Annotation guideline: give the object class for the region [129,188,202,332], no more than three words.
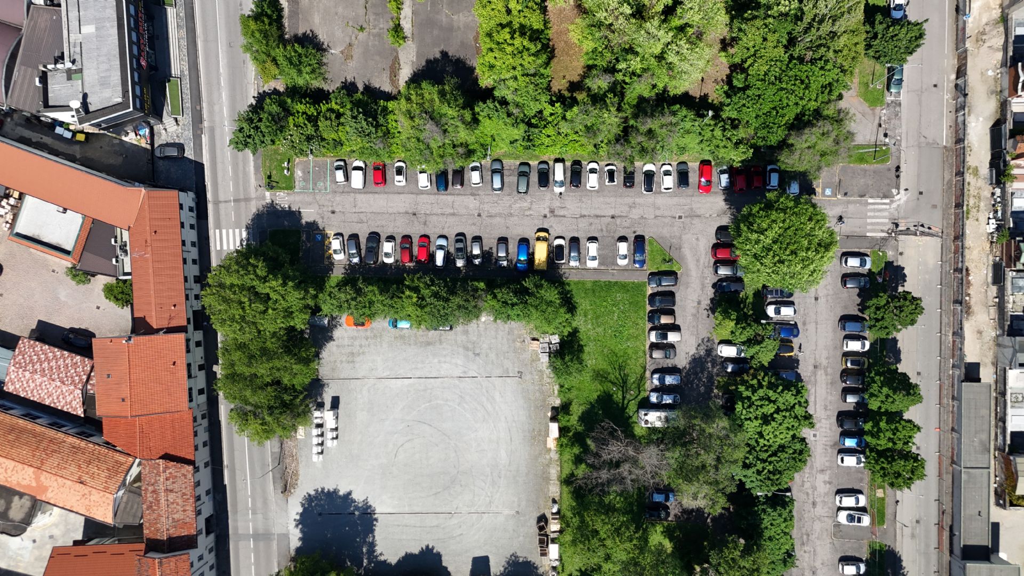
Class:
house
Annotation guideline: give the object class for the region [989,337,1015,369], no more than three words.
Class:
house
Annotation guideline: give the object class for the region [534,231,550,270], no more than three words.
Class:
vehicle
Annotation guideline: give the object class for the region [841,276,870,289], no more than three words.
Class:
vehicle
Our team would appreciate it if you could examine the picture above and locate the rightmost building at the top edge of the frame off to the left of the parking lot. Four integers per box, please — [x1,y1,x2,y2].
[41,0,157,140]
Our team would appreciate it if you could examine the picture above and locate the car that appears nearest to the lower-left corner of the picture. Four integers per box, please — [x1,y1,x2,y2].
[61,330,95,349]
